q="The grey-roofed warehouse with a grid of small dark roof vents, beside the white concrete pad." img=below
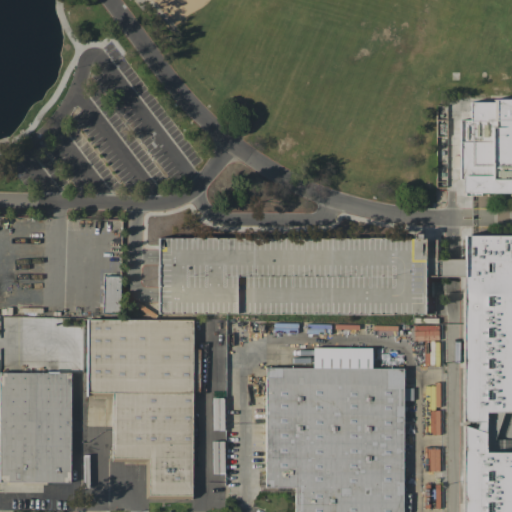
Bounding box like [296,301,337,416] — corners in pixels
[0,373,73,485]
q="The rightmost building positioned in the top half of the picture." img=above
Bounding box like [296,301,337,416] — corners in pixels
[459,99,512,198]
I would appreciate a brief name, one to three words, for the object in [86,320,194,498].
building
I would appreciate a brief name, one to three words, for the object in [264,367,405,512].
warehouse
